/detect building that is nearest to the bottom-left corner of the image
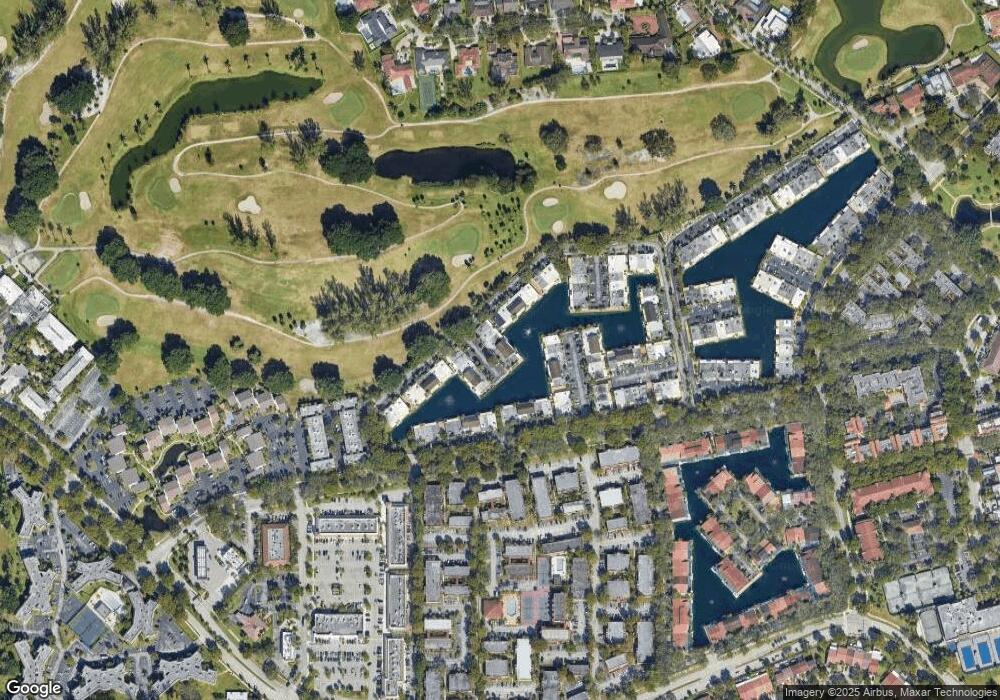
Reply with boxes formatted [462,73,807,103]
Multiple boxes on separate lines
[12,640,56,700]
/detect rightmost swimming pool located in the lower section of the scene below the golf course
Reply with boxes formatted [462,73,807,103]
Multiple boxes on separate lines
[503,593,521,626]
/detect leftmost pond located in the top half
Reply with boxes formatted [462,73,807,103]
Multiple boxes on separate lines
[111,71,320,208]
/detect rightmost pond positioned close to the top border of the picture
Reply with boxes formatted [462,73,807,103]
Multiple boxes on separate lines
[817,0,942,99]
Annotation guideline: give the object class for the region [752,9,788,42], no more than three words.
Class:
house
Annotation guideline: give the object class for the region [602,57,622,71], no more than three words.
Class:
swimming pool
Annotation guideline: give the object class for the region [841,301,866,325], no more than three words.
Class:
building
